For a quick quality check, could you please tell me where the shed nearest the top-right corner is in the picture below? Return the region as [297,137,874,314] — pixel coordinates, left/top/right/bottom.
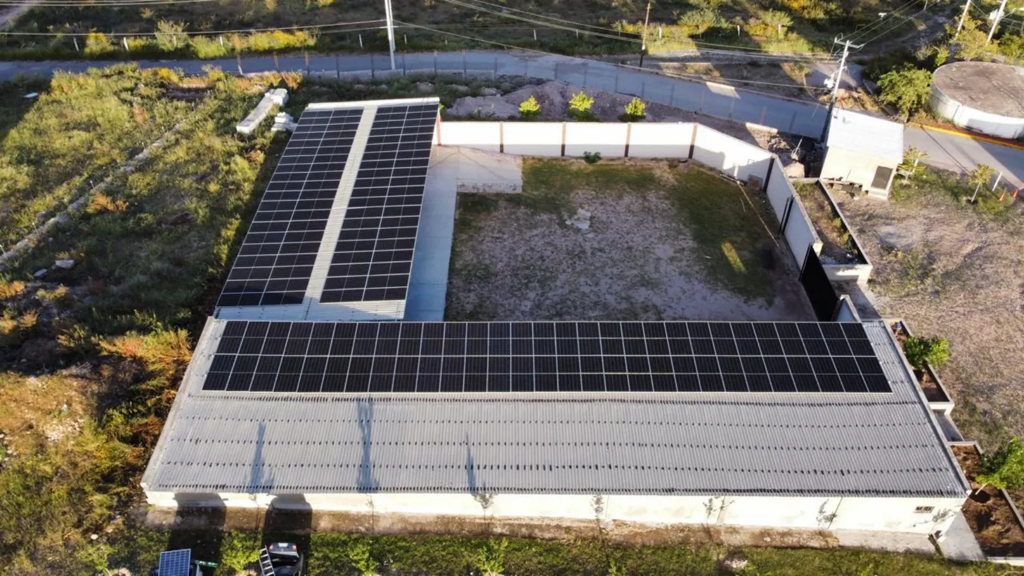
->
[823,108,909,200]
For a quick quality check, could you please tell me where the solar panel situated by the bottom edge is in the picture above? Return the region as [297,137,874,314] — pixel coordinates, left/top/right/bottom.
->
[148,549,186,576]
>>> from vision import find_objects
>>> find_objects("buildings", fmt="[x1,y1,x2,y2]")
[823,108,909,200]
[140,318,970,536]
